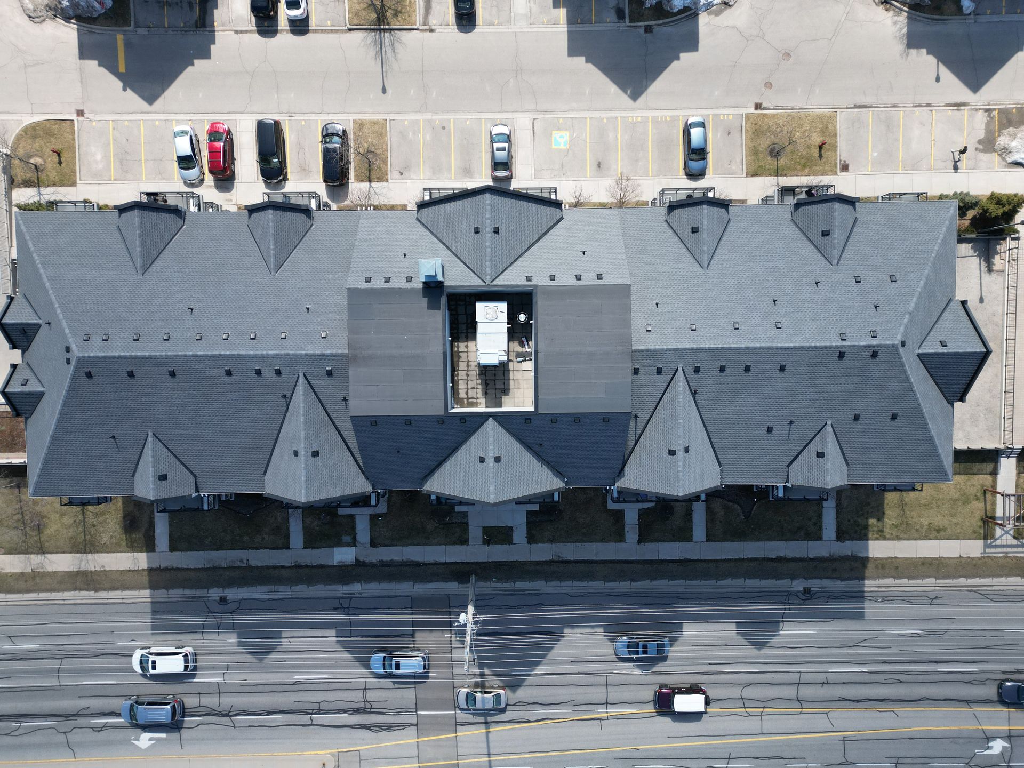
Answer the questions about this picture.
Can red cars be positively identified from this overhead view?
Yes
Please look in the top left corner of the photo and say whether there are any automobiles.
Yes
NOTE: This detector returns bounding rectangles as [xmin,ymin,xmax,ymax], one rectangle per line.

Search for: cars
[994,678,1024,706]
[134,647,195,678]
[318,123,349,187]
[251,0,280,23]
[653,684,707,714]
[454,0,477,20]
[682,117,710,177]
[373,648,429,678]
[123,694,184,726]
[285,0,311,23]
[255,118,287,184]
[614,632,669,661]
[172,124,206,186]
[488,124,514,182]
[456,684,508,712]
[202,121,236,180]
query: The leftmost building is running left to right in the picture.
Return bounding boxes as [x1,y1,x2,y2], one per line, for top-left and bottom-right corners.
[0,184,996,512]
